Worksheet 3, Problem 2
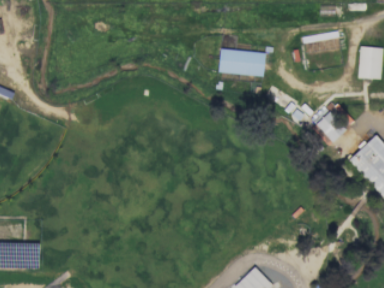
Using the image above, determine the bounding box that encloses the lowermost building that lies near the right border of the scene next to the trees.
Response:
[350,135,384,201]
